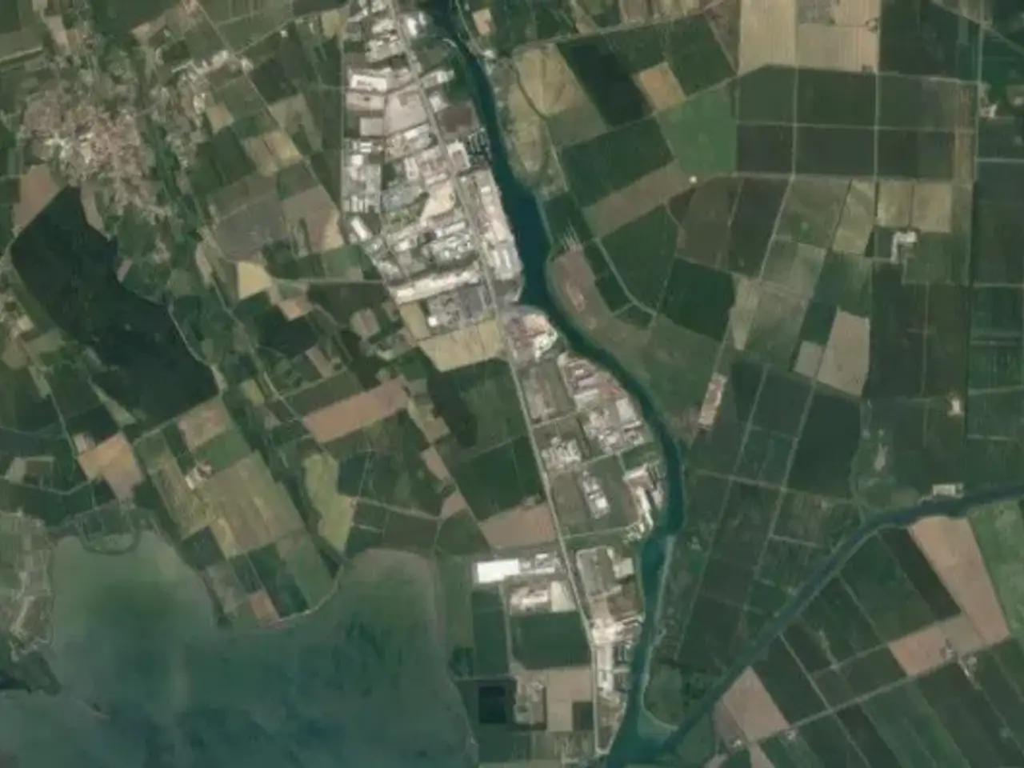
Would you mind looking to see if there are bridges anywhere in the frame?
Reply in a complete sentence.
No, the frame has no bridge in it.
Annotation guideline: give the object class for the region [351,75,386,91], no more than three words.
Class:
building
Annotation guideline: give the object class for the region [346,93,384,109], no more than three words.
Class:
building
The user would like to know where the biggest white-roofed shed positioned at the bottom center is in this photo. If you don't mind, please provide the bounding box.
[477,559,520,583]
